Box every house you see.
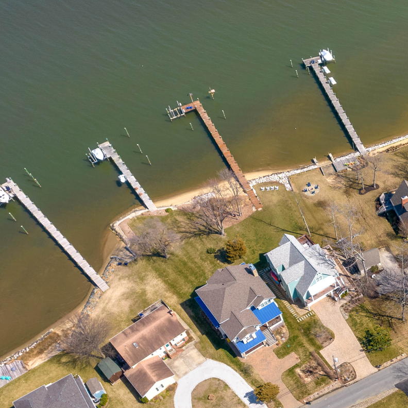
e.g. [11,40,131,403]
[110,297,188,400]
[3,373,97,408]
[378,185,408,226]
[263,230,353,312]
[194,261,285,361]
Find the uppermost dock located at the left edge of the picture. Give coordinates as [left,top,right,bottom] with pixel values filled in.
[0,177,108,293]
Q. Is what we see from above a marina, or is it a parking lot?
marina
